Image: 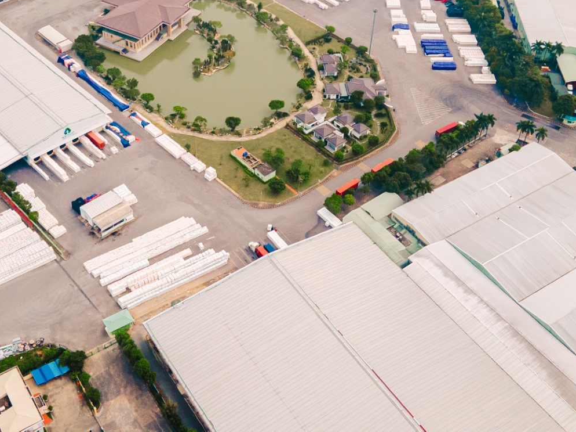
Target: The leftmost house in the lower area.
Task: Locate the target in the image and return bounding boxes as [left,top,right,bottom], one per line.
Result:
[0,368,43,432]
